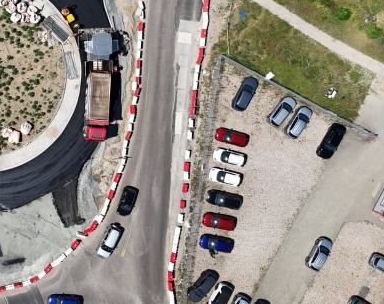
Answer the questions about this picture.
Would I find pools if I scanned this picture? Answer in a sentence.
No, I can see no pool in this picture.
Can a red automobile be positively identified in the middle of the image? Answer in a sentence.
Yes, in the middle of the image there is a red automobile.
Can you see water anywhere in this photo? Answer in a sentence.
No, the picture contains no water.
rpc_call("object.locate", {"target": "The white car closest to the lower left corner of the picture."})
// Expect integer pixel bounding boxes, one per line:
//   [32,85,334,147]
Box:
[98,222,123,256]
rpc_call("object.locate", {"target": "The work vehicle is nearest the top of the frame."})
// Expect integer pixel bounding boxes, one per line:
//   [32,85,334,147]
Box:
[59,7,76,23]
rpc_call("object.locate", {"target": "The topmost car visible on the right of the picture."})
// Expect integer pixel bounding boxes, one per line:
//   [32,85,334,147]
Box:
[231,75,256,110]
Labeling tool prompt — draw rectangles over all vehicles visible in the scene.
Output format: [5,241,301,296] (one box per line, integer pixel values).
[211,146,246,166]
[314,122,343,159]
[84,66,112,146]
[201,211,236,230]
[365,251,384,272]
[188,267,218,301]
[207,166,242,186]
[231,75,256,110]
[204,277,233,304]
[213,127,249,146]
[98,222,123,256]
[197,234,233,256]
[204,188,241,208]
[48,291,83,304]
[59,7,76,23]
[116,183,138,217]
[266,95,293,127]
[283,105,310,138]
[303,235,329,270]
